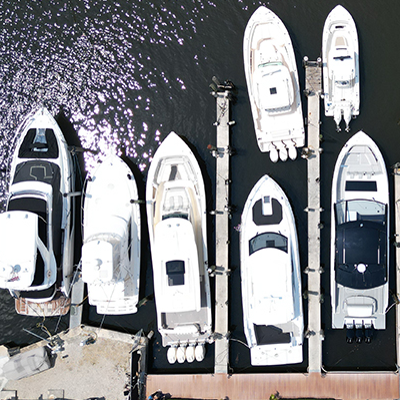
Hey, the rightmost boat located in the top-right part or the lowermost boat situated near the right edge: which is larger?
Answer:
the lowermost boat situated near the right edge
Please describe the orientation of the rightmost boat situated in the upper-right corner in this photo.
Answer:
from top to bottom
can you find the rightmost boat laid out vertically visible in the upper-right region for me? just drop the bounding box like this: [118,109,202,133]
[322,5,359,134]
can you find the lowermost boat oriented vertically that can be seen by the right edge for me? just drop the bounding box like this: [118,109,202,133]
[331,130,390,344]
